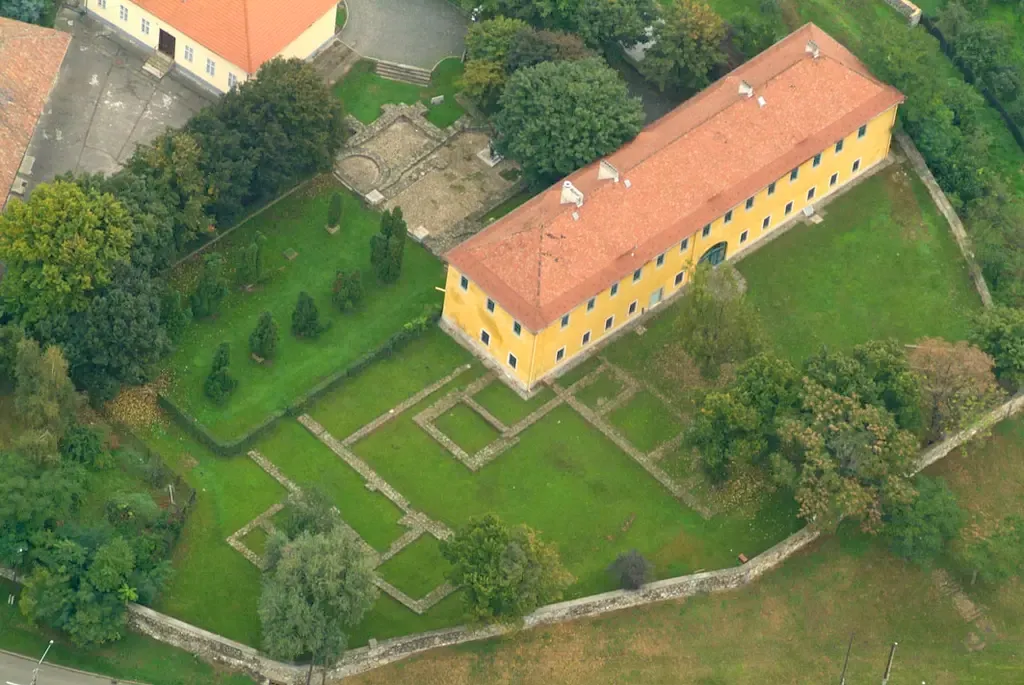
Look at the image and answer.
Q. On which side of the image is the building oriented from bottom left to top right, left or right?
right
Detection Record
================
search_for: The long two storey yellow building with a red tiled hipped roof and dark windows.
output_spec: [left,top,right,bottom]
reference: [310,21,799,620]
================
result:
[436,22,907,389]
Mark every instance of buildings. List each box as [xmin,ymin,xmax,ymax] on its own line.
[436,22,907,389]
[83,0,351,100]
[0,17,71,219]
